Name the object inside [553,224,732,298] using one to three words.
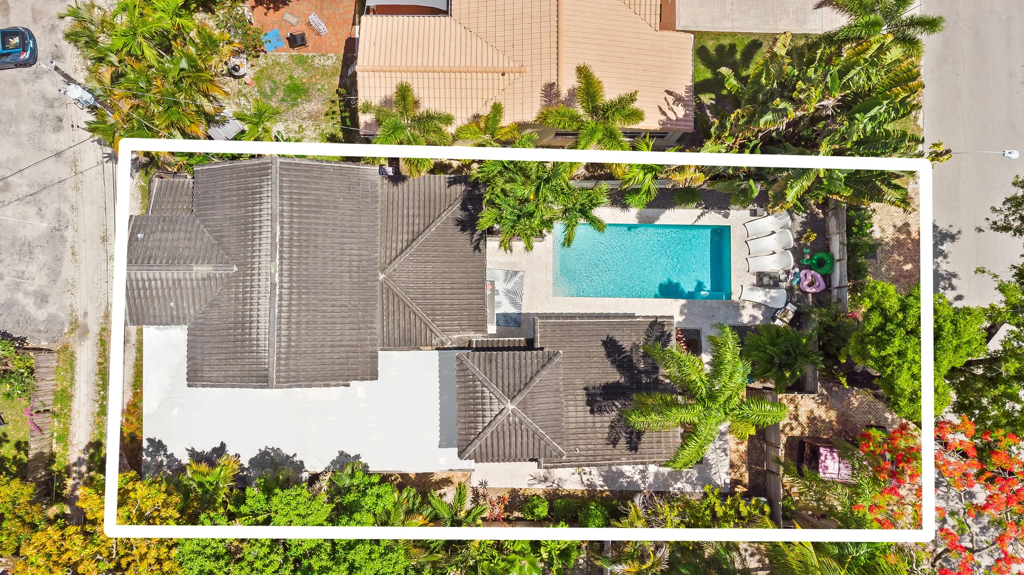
swimming pool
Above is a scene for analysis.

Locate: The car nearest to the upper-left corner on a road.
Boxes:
[0,30,44,77]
